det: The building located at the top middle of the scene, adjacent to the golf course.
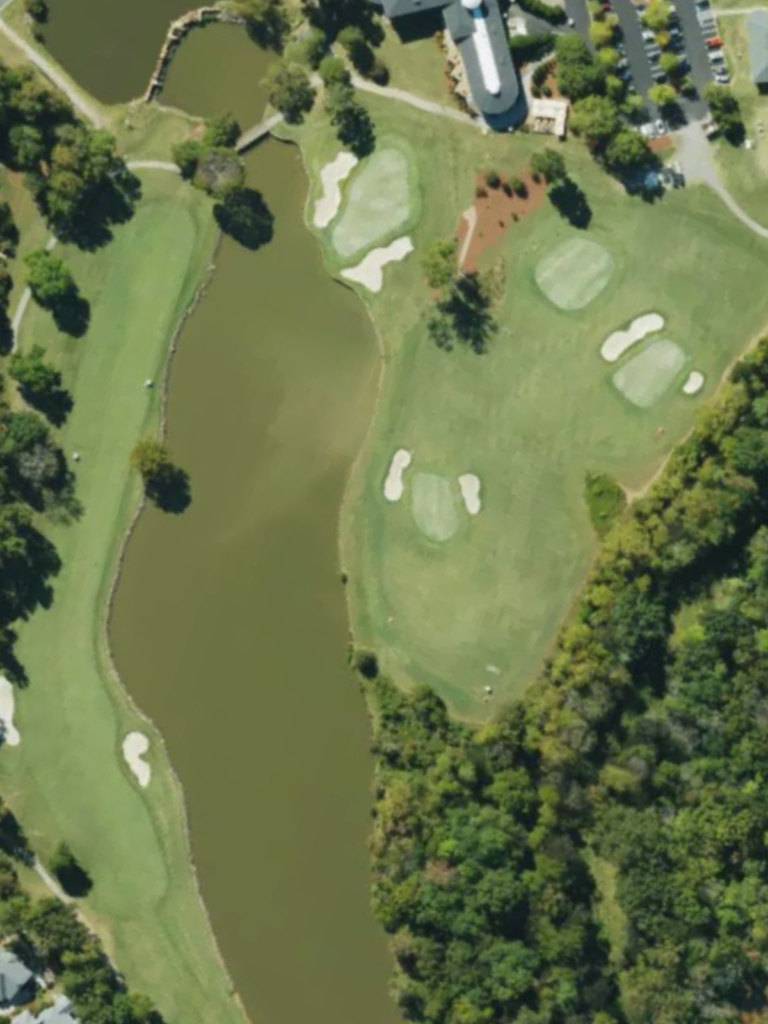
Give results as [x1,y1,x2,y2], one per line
[361,0,520,113]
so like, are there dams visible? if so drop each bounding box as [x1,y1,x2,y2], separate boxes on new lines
[145,5,221,103]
